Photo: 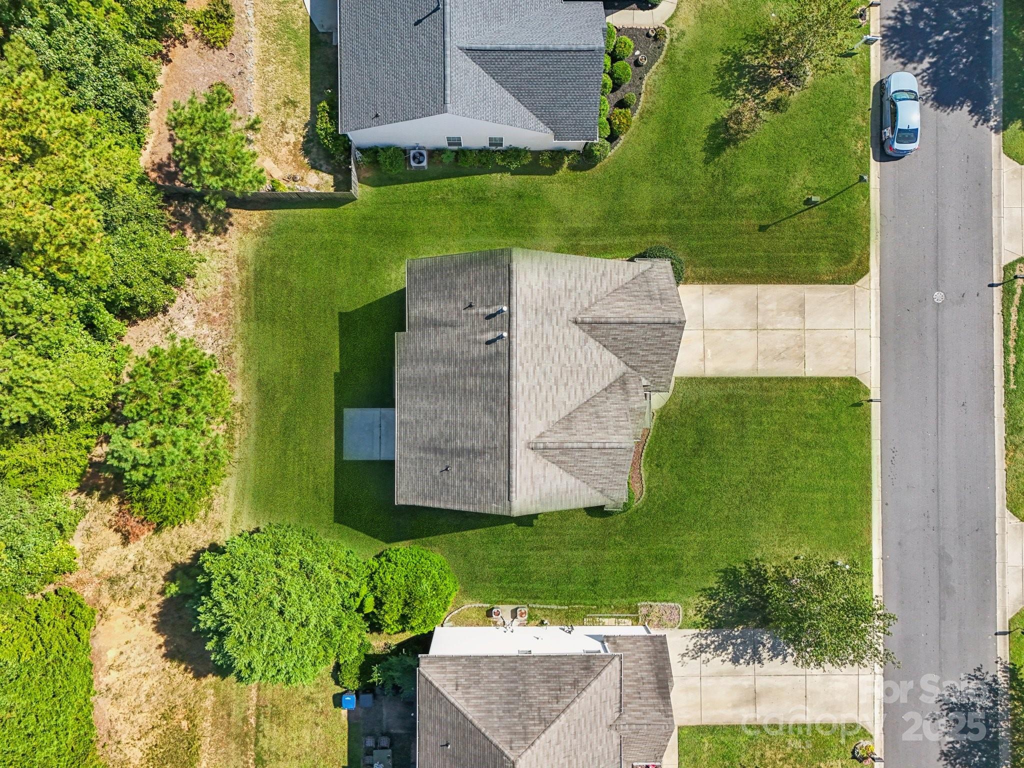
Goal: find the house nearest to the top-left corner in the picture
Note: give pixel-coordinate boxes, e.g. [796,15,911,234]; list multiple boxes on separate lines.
[337,0,604,150]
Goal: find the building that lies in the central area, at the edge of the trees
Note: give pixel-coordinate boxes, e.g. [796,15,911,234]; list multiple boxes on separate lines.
[394,248,685,517]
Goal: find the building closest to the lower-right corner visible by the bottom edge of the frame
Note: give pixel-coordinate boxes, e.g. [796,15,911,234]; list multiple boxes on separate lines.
[415,624,675,768]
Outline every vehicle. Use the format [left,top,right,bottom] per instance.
[881,70,928,158]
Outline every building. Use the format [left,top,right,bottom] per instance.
[415,624,675,768]
[337,0,604,150]
[394,248,685,517]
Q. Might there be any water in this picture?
No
